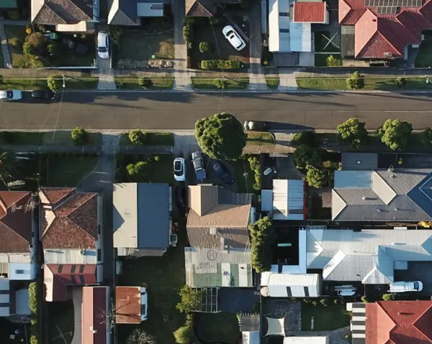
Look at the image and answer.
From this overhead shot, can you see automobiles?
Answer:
Yes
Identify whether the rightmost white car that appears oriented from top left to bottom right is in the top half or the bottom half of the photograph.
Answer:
top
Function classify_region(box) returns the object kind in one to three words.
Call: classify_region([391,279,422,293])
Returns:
vehicle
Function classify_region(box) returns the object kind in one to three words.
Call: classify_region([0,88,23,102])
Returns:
car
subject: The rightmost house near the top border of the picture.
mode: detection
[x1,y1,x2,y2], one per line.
[338,0,432,61]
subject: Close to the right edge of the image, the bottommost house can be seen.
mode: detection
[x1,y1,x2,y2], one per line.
[346,300,432,344]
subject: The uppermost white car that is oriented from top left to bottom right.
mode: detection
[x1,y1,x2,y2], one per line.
[220,23,247,52]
